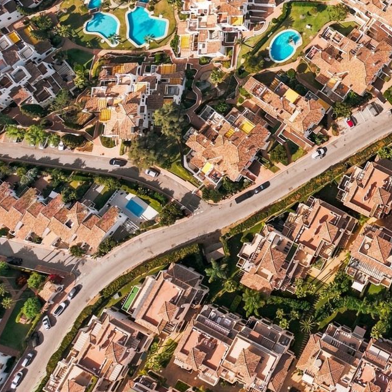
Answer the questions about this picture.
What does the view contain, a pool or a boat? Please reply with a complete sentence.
Visible in the photo is a pool.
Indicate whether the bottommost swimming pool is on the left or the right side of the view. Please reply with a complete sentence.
The bottommost swimming pool appears in the left half of the scene.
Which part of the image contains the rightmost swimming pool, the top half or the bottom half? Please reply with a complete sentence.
You can find the rightmost swimming pool in the top half.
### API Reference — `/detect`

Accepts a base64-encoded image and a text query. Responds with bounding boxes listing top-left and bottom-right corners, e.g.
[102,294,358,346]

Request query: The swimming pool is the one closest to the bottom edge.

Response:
[118,283,139,314]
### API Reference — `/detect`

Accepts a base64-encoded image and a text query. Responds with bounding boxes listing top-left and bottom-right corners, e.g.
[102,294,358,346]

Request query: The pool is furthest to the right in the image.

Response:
[267,28,303,64]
